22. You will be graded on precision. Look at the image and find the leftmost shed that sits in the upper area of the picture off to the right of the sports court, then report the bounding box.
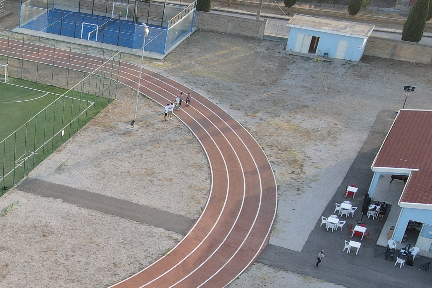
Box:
[278,16,375,62]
